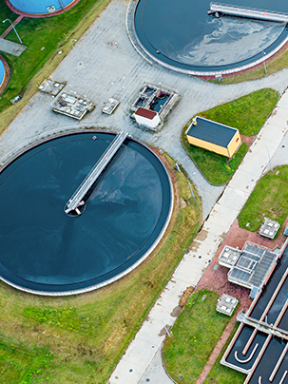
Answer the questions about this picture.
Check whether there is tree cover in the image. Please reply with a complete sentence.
No, the picture contains no tree cover.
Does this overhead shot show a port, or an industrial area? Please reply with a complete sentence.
This image shows an industrial area.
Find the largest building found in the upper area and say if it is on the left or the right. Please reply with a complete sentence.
The largest building found in the upper area sits on the right side.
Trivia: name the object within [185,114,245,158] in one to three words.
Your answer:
building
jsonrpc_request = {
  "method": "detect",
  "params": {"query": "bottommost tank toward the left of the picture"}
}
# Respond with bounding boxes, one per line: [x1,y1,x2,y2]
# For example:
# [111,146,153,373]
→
[0,128,172,298]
